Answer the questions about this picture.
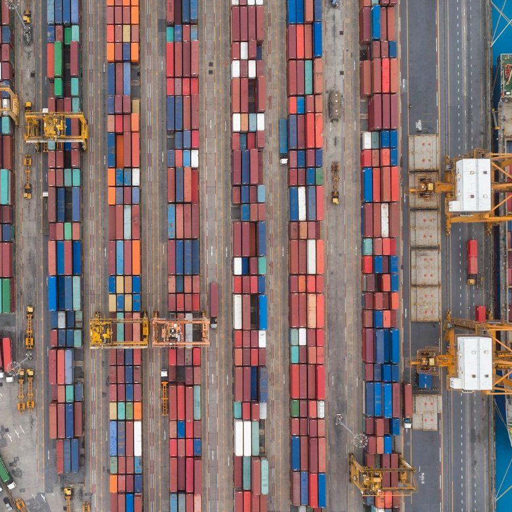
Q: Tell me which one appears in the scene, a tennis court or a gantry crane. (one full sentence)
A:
Visible in the photo is a gantry crane.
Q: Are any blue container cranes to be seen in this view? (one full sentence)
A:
No, there's no blue container crane here.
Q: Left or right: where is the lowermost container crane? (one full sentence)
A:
The lowermost container crane is on the right side of the image.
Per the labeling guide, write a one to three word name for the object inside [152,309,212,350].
container crane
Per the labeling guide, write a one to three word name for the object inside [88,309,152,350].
container crane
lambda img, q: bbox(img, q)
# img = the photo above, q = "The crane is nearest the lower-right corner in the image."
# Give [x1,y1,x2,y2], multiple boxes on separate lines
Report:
[351,449,424,499]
